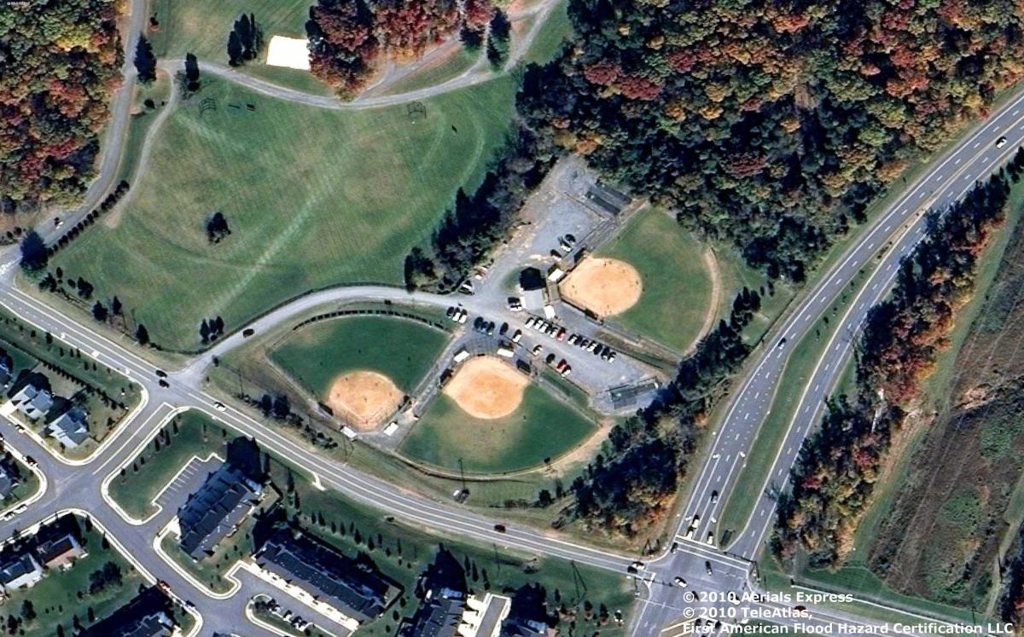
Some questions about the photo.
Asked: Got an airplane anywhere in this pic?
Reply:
No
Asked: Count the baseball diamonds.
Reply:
3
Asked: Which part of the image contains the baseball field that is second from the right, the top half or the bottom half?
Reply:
bottom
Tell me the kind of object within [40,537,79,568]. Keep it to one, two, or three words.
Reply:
house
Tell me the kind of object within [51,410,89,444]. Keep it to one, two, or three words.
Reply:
house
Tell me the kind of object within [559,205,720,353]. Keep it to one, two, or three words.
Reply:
baseball field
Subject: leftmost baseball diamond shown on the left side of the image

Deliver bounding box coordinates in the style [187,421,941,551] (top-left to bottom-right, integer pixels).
[267,316,449,432]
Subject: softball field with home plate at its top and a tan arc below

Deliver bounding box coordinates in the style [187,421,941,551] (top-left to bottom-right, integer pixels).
[394,356,608,480]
